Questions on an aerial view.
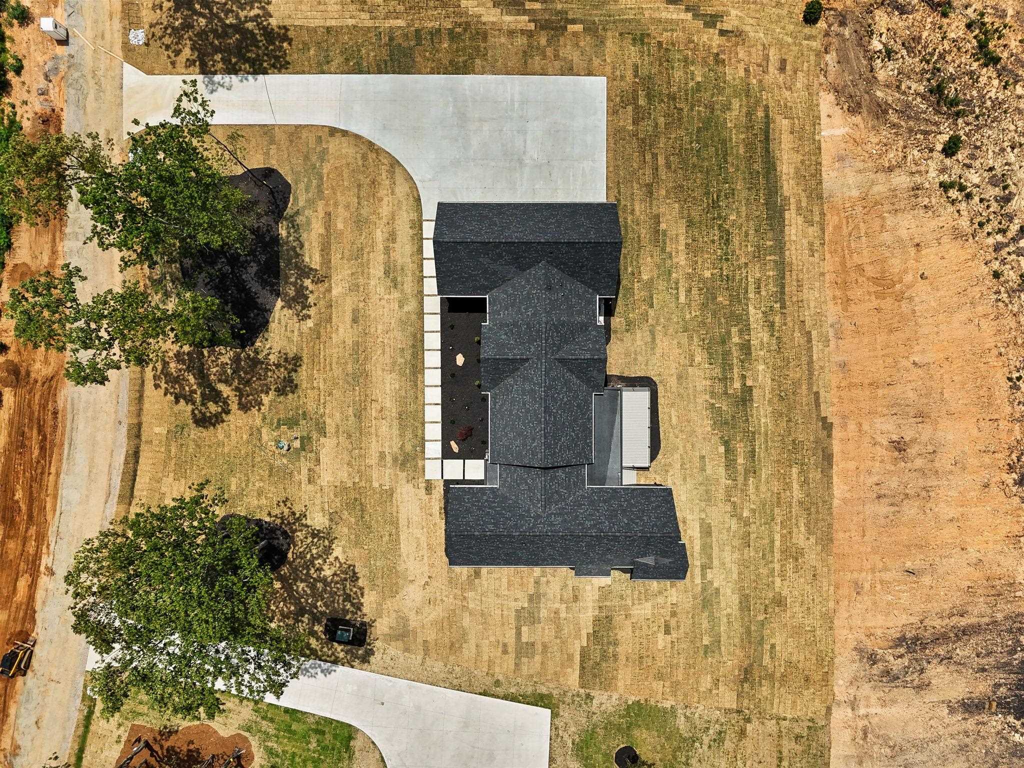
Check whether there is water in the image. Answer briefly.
No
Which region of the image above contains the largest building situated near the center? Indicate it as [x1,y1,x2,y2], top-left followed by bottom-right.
[433,201,689,581]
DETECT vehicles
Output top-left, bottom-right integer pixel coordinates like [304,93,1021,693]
[0,634,37,682]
